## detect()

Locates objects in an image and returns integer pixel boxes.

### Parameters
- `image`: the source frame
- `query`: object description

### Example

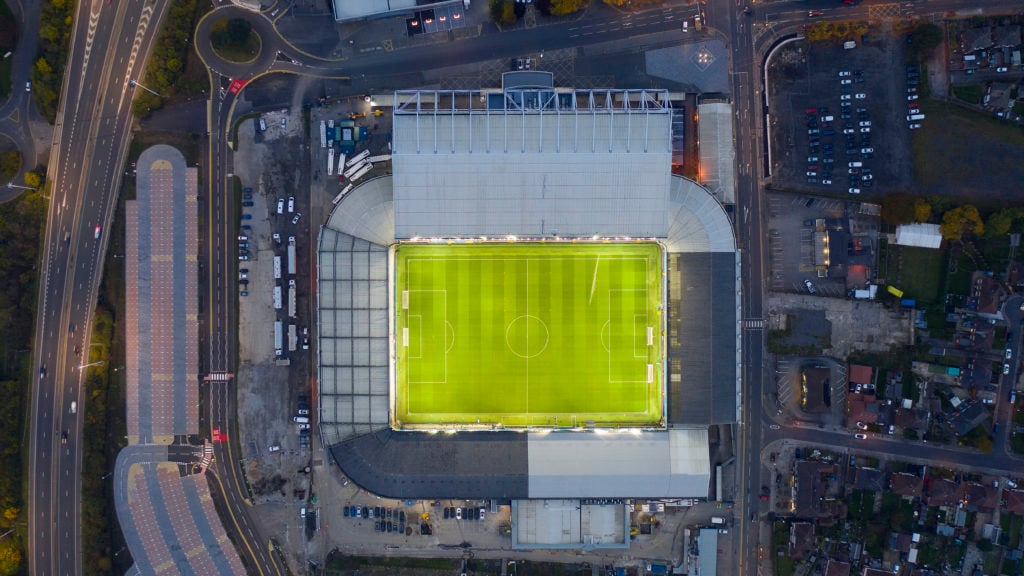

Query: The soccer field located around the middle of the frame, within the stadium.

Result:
[396,242,662,425]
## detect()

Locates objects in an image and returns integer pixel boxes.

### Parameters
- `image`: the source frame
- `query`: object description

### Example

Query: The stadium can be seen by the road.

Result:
[316,70,742,499]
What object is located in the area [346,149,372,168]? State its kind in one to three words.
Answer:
vehicle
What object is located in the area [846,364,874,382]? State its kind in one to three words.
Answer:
house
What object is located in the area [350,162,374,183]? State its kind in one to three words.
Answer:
bus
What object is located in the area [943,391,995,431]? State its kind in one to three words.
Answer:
house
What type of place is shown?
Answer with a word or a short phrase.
sports ground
